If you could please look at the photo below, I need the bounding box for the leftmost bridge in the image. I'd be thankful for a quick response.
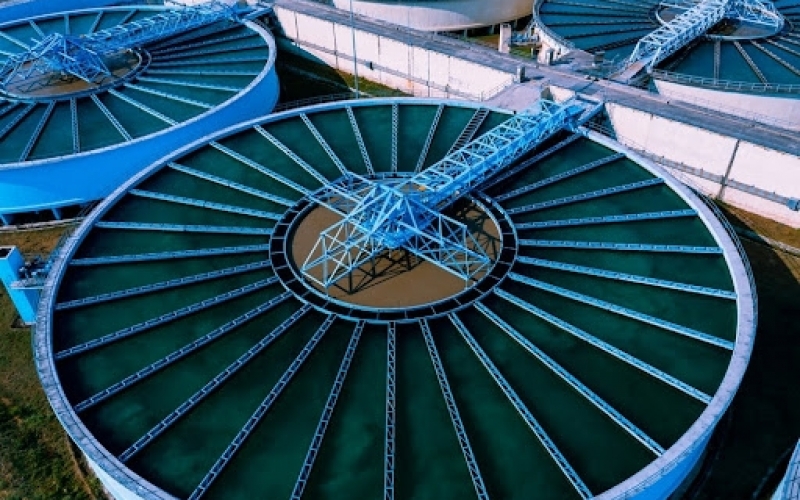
[68,0,244,63]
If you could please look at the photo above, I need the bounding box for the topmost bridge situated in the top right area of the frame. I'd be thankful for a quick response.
[632,0,738,73]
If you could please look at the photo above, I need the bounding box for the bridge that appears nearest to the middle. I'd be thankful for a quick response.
[389,94,578,228]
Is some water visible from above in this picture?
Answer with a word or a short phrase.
Yes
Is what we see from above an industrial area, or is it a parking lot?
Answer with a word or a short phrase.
industrial area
